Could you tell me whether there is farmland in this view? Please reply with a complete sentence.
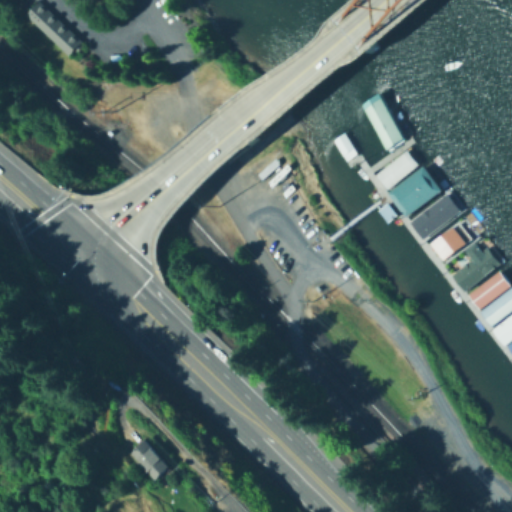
No, the scene doesn't show any farmland.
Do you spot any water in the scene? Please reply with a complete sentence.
Yes, water shows up in the scene.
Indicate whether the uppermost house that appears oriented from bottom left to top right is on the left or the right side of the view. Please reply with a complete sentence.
You can find the uppermost house that appears oriented from bottom left to top right on the right side of the picture.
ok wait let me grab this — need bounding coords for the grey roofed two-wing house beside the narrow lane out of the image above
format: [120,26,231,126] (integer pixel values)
[134,437,174,480]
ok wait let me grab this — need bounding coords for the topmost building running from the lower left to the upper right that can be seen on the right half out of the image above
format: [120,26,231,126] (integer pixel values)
[377,150,420,190]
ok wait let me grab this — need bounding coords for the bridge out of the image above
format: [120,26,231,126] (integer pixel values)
[62,0,429,290]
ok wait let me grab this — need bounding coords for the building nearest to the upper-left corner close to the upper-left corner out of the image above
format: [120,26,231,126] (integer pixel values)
[32,0,88,58]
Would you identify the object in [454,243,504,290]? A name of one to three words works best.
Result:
house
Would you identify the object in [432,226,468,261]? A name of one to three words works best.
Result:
house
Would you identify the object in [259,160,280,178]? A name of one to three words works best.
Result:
camper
